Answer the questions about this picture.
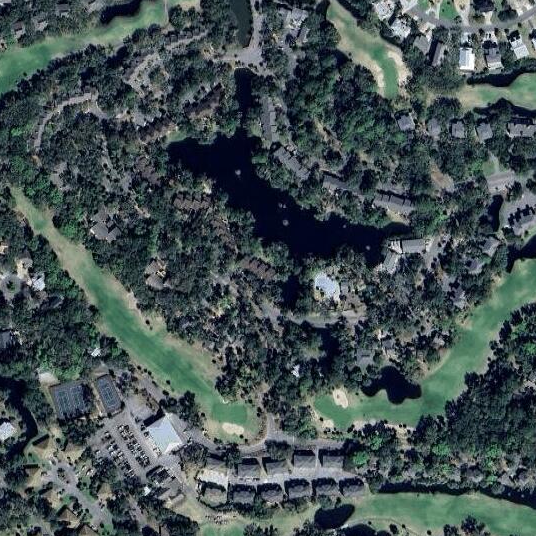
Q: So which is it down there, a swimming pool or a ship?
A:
swimming pool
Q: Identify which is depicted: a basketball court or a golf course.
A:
golf course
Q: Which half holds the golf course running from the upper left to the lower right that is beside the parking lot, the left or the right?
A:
left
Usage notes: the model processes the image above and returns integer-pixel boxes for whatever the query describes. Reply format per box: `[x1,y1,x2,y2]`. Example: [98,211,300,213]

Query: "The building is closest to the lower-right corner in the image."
[343,483,366,499]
